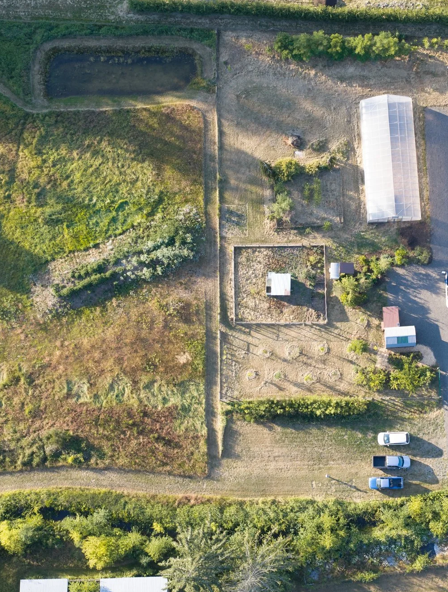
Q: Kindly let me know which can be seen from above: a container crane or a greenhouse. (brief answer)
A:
greenhouse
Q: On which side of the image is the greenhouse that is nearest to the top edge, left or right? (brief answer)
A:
right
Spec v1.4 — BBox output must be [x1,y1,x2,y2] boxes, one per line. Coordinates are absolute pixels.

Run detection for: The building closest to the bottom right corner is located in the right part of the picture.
[383,325,416,348]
